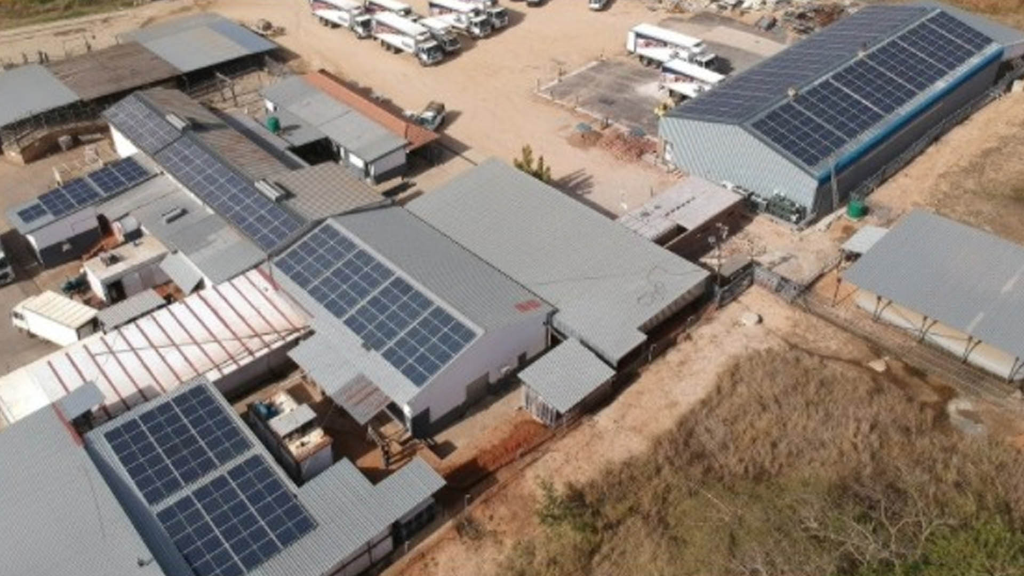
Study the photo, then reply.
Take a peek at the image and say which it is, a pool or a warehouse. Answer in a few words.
warehouse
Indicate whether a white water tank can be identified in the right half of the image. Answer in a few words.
No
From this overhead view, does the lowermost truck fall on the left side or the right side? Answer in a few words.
left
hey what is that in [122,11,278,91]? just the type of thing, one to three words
shed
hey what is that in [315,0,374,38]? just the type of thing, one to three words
truck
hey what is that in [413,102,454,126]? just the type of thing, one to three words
truck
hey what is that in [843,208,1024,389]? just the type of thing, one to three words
shed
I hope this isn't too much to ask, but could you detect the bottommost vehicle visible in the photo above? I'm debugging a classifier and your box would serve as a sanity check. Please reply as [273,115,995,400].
[0,290,95,348]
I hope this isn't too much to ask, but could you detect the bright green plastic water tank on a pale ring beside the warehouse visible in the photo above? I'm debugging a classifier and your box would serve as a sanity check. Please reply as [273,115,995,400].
[844,197,870,222]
